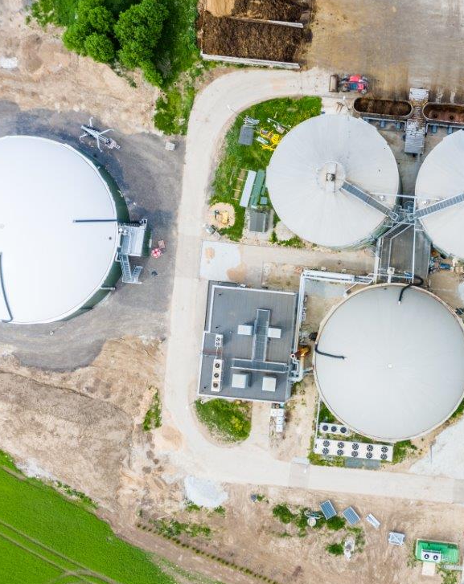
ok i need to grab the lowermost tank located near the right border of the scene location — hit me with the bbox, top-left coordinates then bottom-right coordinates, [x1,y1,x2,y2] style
[309,274,464,441]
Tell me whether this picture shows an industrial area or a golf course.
industrial area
